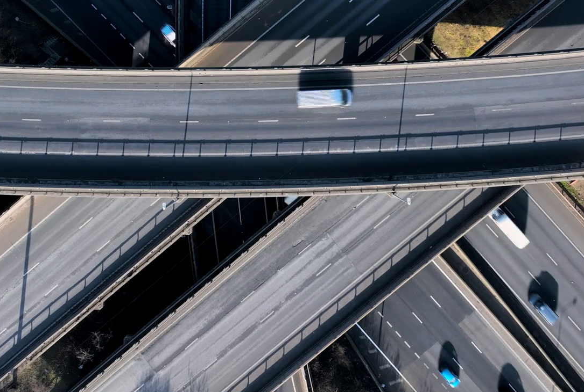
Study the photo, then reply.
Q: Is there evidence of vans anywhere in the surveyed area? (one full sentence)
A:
Yes, I can see a van in this picture.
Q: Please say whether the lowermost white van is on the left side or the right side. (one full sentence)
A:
It is on the right.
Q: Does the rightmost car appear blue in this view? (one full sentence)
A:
Yes, the rightmost car appears blue.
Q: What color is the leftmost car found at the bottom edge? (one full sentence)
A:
The leftmost car found at the bottom edge looks blue in the image.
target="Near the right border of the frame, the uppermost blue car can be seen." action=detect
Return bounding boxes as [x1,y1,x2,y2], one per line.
[528,293,558,325]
